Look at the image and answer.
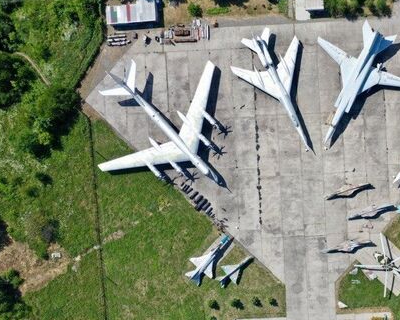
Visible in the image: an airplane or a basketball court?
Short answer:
airplane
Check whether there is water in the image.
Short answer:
No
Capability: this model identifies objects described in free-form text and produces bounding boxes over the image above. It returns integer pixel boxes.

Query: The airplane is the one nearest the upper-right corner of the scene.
[317,20,400,144]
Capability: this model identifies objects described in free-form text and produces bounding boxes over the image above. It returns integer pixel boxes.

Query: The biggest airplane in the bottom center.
[184,233,233,286]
